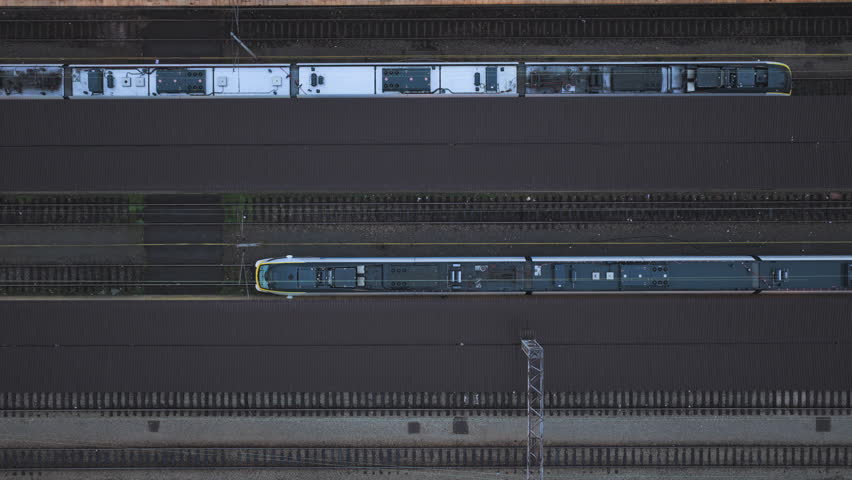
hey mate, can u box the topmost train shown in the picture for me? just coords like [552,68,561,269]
[0,60,792,99]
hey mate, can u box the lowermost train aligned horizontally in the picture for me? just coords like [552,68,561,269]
[255,253,852,298]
